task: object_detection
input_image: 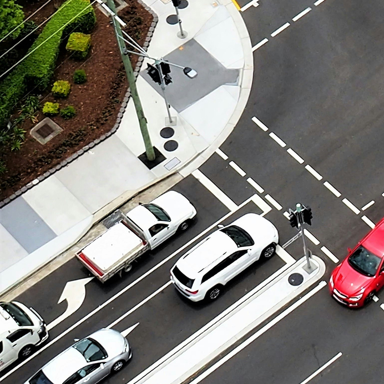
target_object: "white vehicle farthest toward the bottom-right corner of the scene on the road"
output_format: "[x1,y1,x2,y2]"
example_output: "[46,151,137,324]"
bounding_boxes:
[170,212,280,305]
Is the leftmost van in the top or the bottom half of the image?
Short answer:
bottom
